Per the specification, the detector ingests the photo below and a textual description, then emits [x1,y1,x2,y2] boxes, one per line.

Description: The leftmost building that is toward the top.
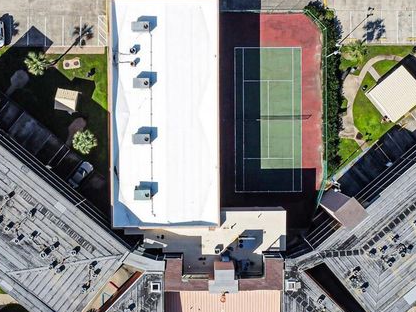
[55,87,81,111]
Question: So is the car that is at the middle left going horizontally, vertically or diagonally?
diagonally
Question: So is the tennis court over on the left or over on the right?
right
